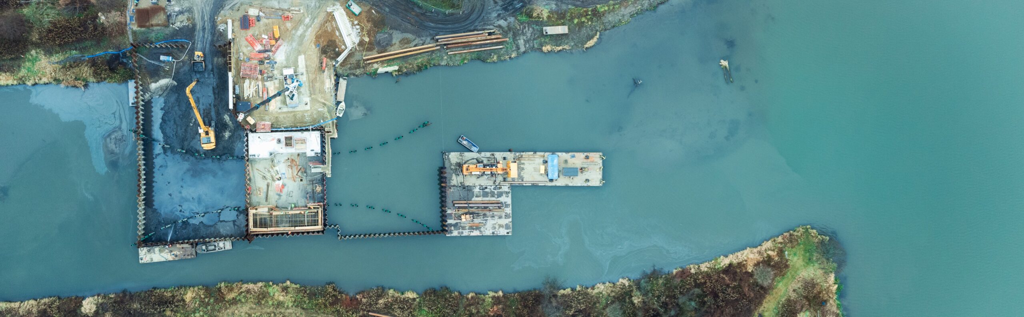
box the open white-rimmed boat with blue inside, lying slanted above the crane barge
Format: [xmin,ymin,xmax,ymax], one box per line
[458,135,479,152]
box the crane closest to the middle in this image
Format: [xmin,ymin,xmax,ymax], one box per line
[460,151,522,184]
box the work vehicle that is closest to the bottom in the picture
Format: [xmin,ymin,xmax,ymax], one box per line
[186,75,215,150]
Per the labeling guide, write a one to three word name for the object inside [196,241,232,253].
boat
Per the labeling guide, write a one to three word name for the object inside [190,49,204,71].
vehicle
